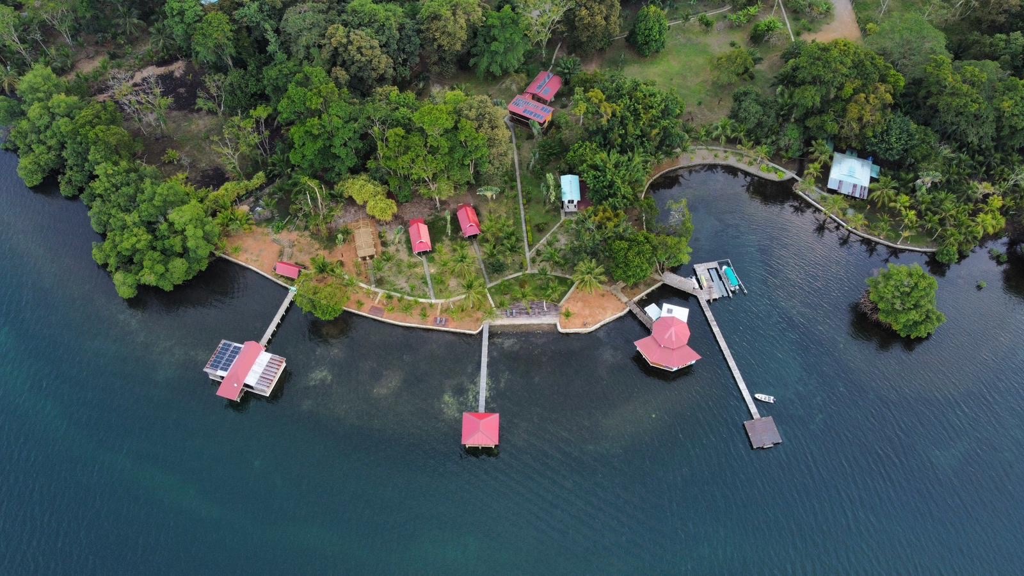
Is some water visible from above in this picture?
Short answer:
Yes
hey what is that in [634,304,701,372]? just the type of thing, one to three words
building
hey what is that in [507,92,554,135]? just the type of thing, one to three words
house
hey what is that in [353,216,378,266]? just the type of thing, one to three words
shed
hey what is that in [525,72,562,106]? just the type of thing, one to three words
house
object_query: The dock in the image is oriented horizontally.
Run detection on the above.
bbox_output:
[662,259,749,302]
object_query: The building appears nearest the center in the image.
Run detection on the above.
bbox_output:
[456,205,481,245]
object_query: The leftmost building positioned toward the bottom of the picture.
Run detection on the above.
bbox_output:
[203,340,289,405]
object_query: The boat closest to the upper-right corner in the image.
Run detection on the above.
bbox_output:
[723,264,741,292]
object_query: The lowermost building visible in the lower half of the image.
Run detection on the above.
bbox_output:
[461,412,499,450]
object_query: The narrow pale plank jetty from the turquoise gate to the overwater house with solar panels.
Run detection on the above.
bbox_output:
[260,294,294,347]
